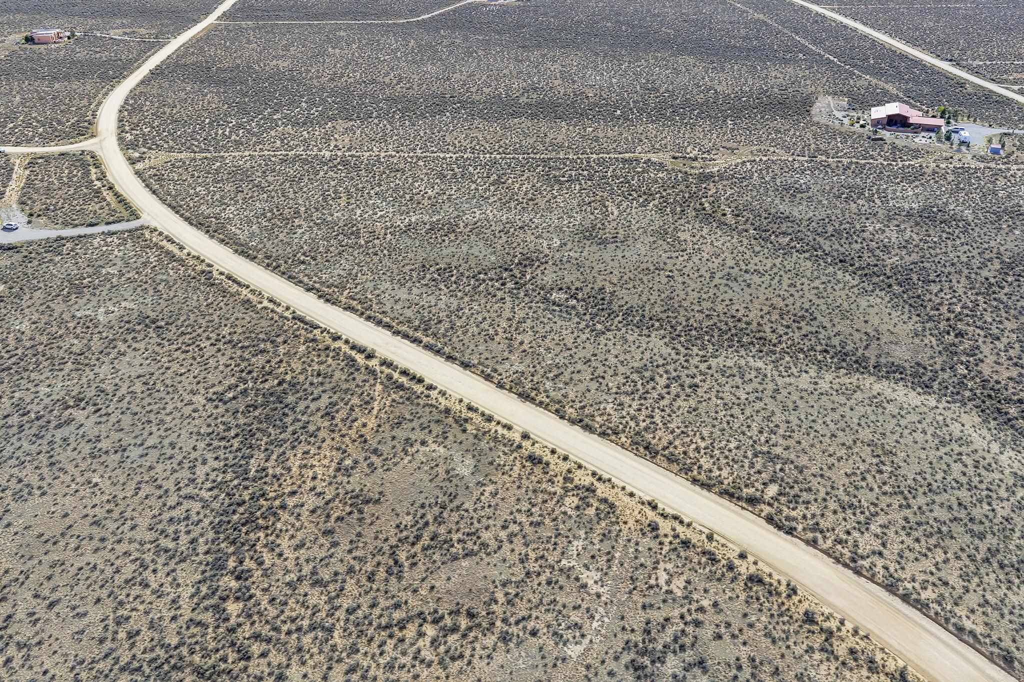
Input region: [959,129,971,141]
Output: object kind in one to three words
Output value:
vehicle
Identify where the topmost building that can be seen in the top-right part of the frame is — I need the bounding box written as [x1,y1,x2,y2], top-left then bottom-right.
[870,103,944,136]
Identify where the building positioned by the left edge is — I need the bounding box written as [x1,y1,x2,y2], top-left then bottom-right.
[28,30,66,43]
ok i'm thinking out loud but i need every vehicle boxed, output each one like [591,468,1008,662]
[2,220,19,228]
[947,125,964,132]
[959,129,971,141]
